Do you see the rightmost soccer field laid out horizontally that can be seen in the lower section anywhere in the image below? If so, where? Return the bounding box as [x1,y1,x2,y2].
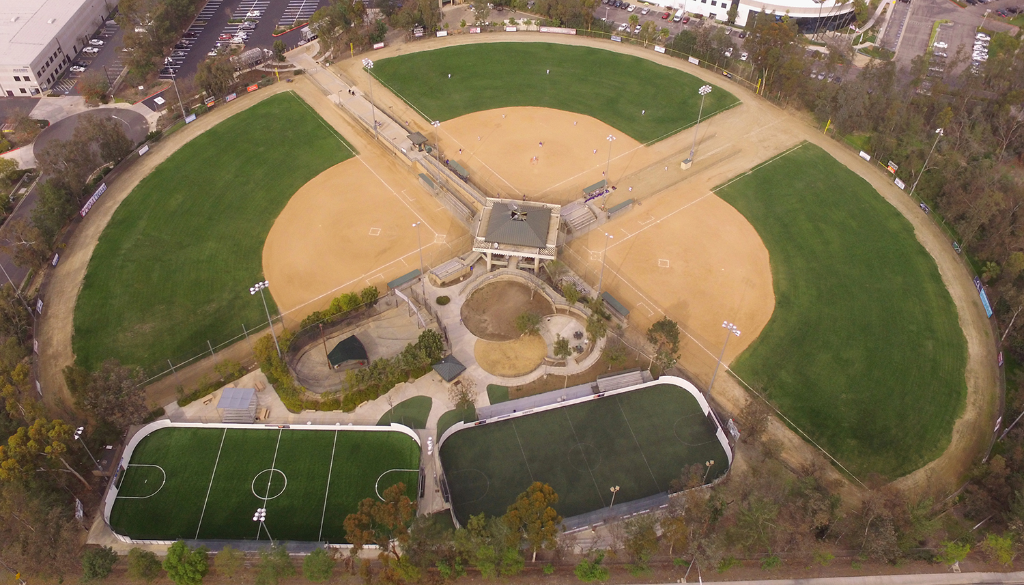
[440,384,731,539]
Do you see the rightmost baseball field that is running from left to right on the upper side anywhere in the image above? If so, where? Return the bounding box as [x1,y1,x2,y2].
[365,42,741,204]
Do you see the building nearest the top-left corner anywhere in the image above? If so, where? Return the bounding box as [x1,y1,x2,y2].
[0,0,122,97]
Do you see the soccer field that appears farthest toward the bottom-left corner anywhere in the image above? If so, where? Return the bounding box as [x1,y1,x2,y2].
[109,430,421,542]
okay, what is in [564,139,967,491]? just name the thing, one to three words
baseball field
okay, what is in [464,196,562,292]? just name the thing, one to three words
building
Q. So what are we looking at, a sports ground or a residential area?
sports ground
